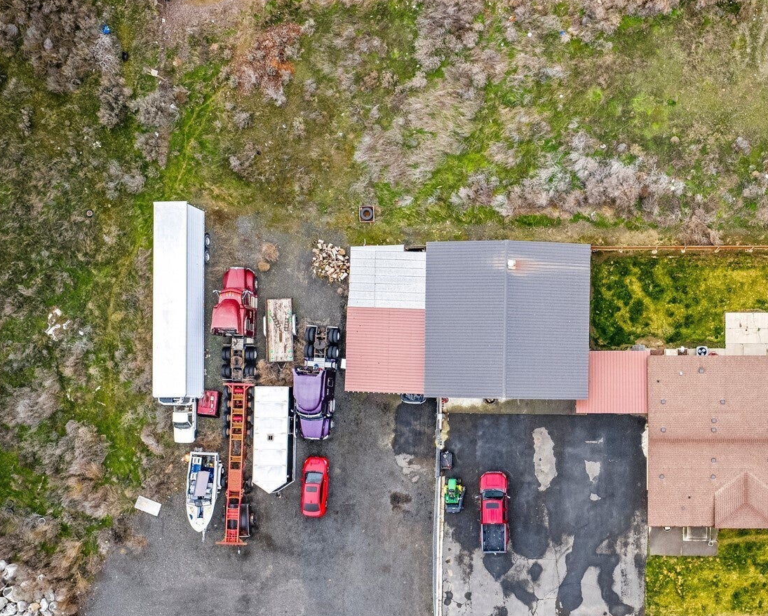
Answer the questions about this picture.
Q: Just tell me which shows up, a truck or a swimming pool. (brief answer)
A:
truck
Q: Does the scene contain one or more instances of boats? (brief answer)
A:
Yes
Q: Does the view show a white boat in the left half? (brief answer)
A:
Yes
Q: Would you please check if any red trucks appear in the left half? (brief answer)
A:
Yes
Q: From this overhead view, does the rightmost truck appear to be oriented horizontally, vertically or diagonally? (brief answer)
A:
vertically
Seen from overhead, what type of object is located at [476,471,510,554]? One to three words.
truck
